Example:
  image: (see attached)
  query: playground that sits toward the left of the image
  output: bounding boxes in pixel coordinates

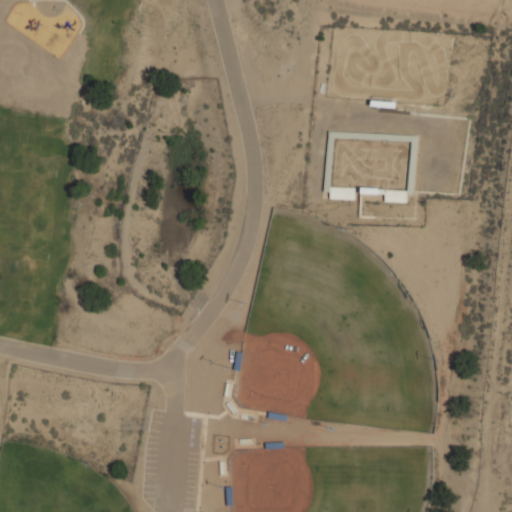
[6,2,81,58]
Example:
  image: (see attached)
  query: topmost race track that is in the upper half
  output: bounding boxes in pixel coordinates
[326,28,454,105]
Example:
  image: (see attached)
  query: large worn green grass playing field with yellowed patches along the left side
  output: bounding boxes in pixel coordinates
[0,106,72,346]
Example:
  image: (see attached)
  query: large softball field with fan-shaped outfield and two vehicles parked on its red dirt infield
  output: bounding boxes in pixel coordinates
[237,208,437,431]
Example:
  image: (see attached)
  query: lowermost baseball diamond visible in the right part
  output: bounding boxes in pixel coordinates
[232,446,432,512]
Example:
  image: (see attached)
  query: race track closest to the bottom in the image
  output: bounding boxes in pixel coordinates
[330,139,410,191]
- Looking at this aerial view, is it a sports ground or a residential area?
sports ground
